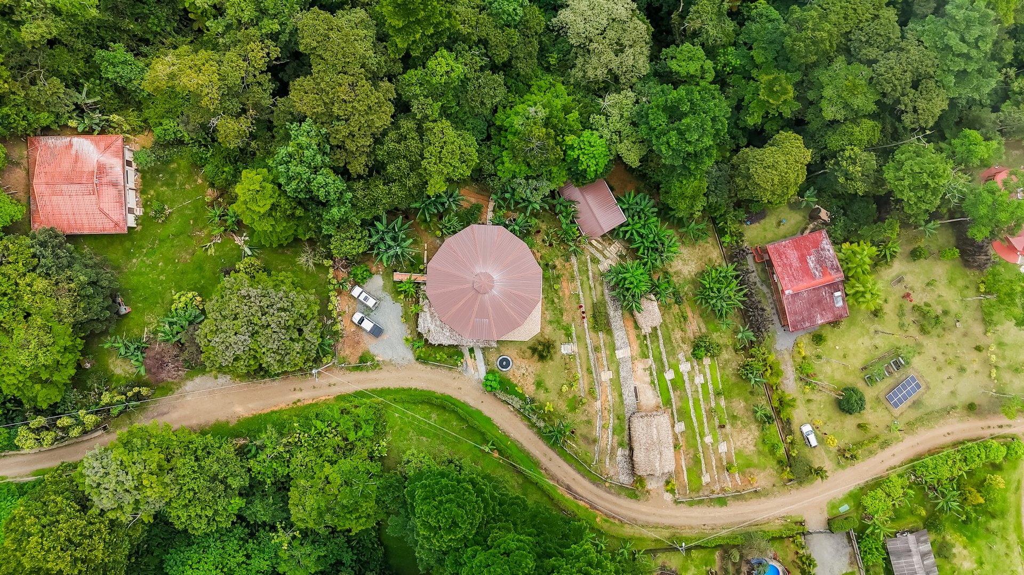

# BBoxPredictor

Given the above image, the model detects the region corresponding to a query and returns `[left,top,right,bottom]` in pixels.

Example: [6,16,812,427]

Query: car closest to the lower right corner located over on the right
[799,421,819,450]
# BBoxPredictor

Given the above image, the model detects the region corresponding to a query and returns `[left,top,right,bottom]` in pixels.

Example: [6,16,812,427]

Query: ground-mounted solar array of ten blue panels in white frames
[885,374,922,409]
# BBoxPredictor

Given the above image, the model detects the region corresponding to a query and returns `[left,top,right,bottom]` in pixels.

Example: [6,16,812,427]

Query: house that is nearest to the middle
[426,224,543,343]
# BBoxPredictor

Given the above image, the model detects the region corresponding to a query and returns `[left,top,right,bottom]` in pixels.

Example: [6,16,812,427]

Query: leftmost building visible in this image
[27,134,140,234]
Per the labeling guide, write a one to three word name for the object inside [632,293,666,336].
shed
